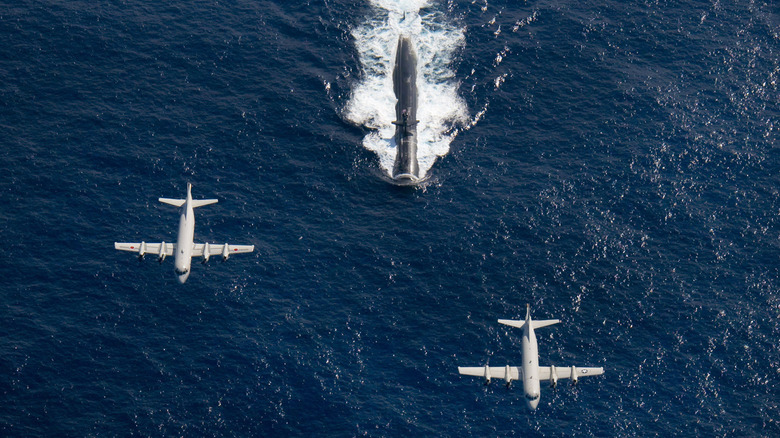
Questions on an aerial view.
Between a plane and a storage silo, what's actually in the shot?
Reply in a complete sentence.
The one in the frame is a plane.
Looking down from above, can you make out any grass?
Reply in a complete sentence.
No, there is no grass in the image.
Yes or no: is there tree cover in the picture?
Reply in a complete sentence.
No, no tree cover is visible.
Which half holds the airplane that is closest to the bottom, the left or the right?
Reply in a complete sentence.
The airplane that is closest to the bottom sits on the right side.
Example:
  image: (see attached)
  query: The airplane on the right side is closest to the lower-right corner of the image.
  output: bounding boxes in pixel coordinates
[459,304,604,411]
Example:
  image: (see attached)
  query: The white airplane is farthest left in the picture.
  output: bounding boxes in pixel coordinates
[115,184,254,285]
